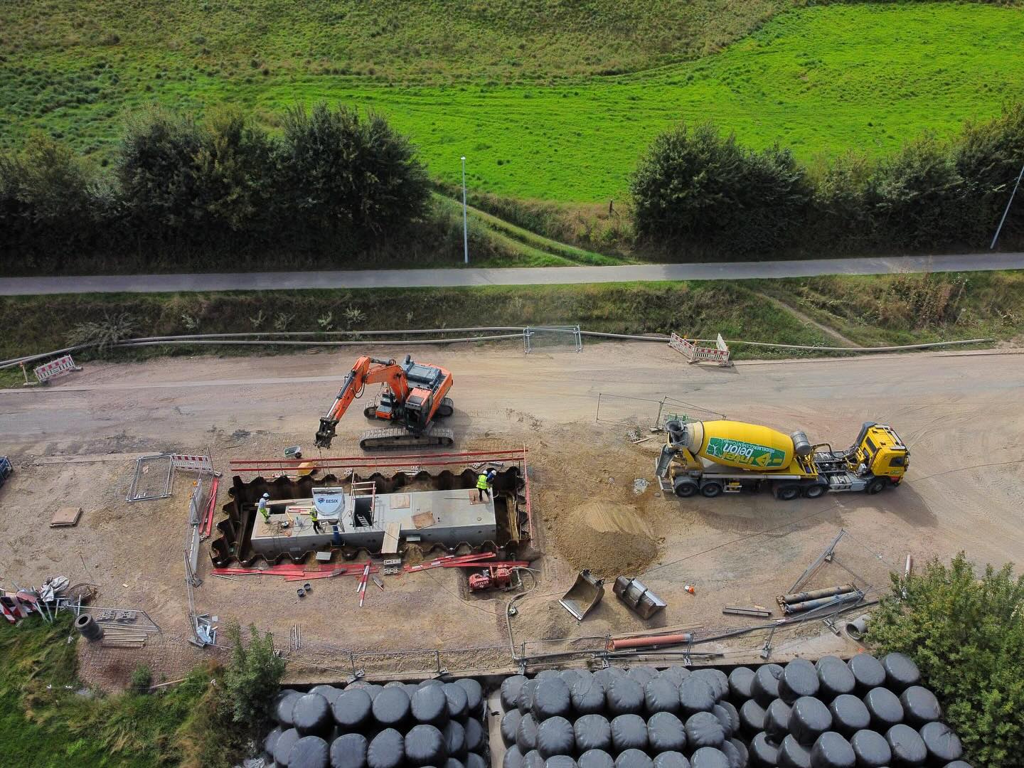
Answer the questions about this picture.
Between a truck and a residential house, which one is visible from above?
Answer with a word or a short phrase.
truck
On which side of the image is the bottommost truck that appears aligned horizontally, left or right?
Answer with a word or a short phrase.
right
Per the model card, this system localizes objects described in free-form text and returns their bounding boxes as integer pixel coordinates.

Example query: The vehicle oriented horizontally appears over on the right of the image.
[655,413,920,498]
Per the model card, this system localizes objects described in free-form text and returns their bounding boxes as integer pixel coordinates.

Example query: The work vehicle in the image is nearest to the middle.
[309,353,457,452]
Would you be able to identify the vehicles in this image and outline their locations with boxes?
[655,413,920,498]
[309,353,457,452]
